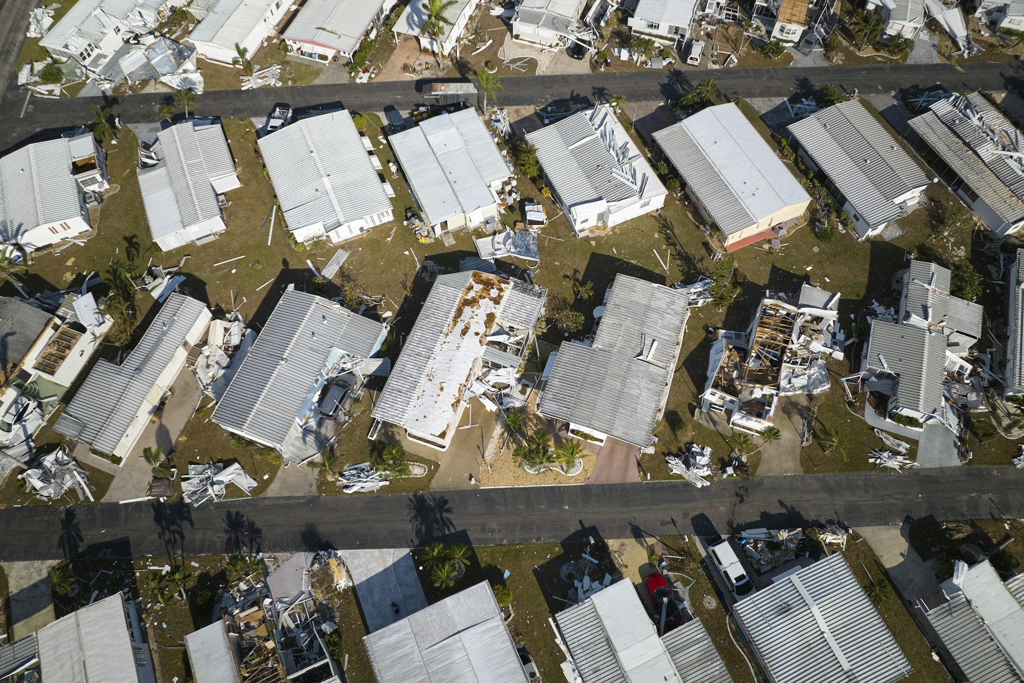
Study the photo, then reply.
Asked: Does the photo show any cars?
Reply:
Yes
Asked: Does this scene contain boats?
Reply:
No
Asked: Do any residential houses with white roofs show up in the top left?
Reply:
Yes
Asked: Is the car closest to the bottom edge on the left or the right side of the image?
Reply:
right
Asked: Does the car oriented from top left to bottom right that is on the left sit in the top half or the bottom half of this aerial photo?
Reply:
top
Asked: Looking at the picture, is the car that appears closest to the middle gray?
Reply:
Yes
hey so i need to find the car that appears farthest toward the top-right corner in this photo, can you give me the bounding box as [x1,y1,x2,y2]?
[804,22,831,48]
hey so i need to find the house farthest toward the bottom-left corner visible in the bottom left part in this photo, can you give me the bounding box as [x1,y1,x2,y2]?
[0,591,152,683]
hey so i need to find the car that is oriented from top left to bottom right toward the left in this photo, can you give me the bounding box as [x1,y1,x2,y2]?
[382,99,410,133]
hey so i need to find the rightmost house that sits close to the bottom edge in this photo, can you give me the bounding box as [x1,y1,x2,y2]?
[926,560,1024,683]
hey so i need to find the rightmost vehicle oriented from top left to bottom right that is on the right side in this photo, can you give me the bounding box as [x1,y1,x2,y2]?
[709,536,759,601]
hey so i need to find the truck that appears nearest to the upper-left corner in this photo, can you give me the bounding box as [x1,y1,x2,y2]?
[260,95,291,135]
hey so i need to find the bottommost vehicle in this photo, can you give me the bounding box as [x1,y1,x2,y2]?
[646,569,690,629]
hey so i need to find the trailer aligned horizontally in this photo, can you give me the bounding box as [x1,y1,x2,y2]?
[415,82,479,110]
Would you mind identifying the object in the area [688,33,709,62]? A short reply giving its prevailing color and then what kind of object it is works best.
white car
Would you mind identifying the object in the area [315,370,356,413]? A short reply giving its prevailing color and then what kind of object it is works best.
gray car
